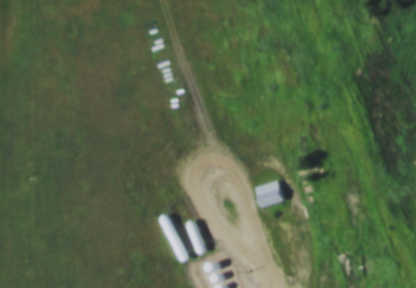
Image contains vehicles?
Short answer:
No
